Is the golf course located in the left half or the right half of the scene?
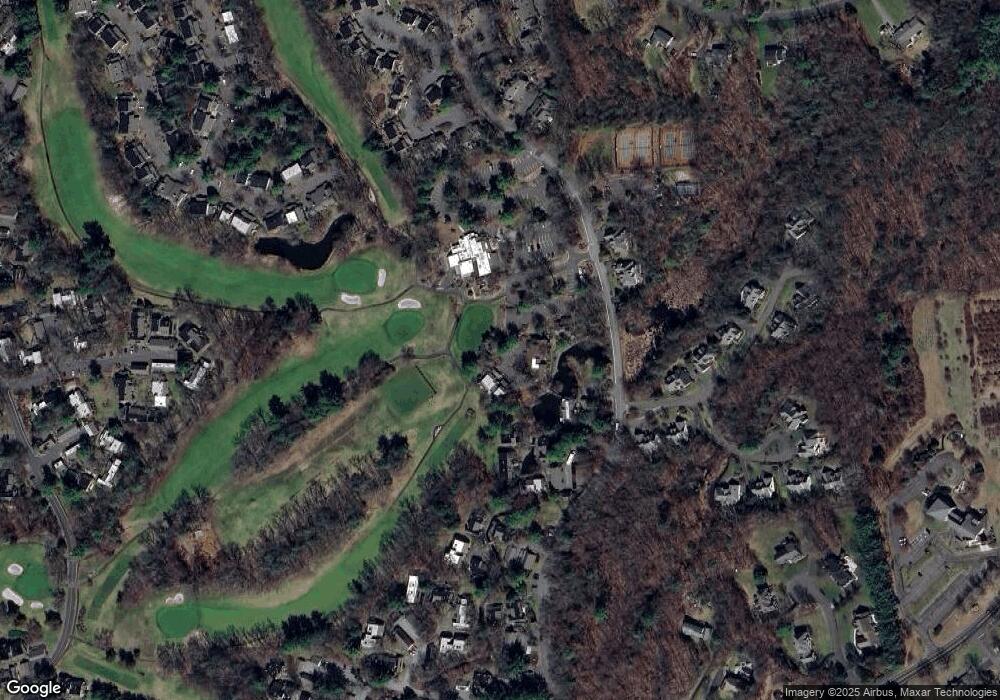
left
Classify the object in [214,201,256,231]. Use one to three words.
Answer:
house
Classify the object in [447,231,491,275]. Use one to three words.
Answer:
building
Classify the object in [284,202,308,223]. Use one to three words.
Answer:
house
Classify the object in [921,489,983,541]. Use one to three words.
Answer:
building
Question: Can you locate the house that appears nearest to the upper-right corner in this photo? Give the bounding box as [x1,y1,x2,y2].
[883,16,928,50]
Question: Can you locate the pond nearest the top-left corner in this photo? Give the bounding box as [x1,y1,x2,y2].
[256,214,355,268]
